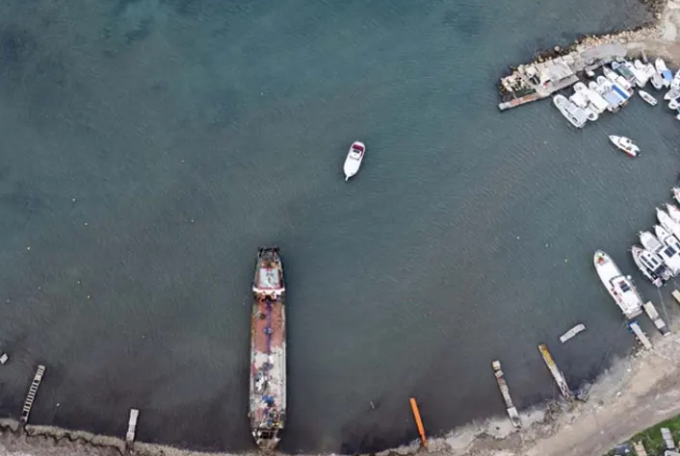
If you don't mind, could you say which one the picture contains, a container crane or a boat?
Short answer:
boat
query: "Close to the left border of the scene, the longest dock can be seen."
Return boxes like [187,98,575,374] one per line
[20,366,47,422]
